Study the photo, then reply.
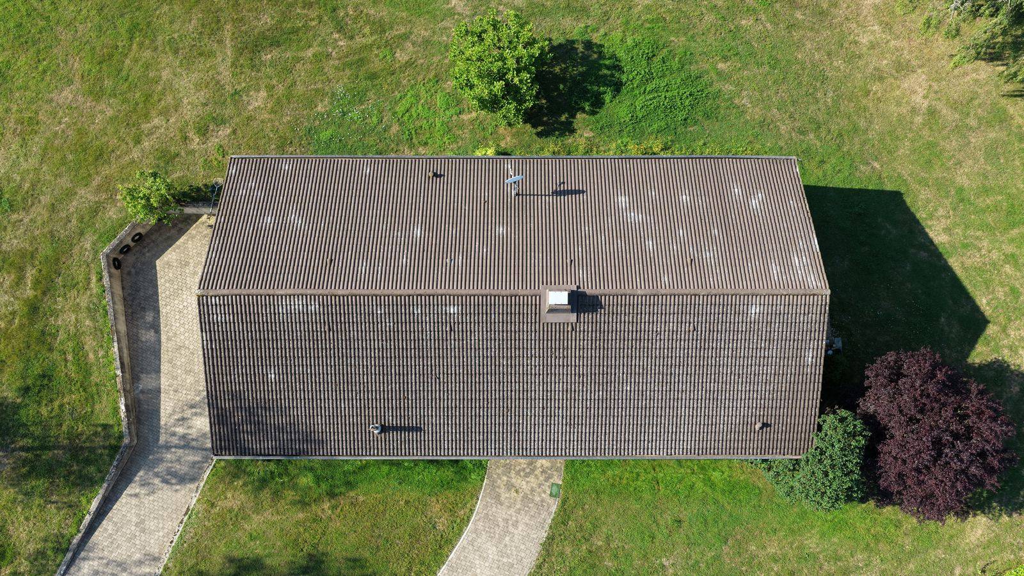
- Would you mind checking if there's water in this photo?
No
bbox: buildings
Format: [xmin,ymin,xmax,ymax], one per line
[194,154,834,459]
